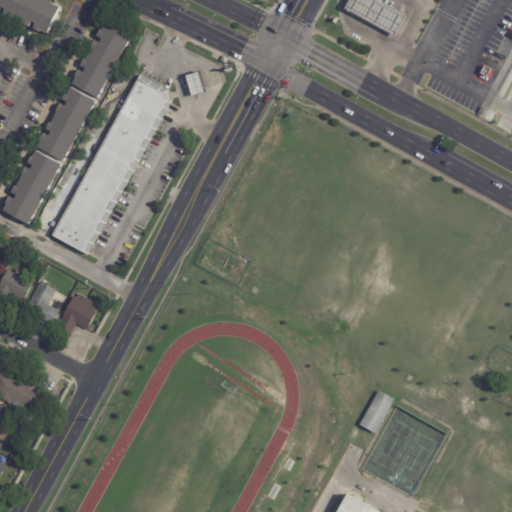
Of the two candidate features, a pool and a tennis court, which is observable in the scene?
tennis court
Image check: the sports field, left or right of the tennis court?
to its left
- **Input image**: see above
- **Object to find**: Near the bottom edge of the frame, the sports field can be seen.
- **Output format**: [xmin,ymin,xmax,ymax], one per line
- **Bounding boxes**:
[95,334,286,512]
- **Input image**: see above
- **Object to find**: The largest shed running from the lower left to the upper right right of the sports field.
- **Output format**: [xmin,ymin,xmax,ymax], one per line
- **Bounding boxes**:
[360,392,394,432]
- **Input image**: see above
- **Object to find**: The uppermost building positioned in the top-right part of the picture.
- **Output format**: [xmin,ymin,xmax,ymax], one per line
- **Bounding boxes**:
[344,0,408,36]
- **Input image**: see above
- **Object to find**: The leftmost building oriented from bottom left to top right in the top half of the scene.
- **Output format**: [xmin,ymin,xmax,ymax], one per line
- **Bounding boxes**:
[4,152,62,224]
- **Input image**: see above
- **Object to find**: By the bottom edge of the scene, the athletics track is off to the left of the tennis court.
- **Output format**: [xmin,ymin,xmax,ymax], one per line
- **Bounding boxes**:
[79,320,300,512]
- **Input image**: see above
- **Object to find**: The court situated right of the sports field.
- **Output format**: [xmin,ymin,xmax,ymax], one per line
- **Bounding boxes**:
[362,406,446,494]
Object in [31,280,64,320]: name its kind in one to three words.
house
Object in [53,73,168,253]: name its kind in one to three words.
building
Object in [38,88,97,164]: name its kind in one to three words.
building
